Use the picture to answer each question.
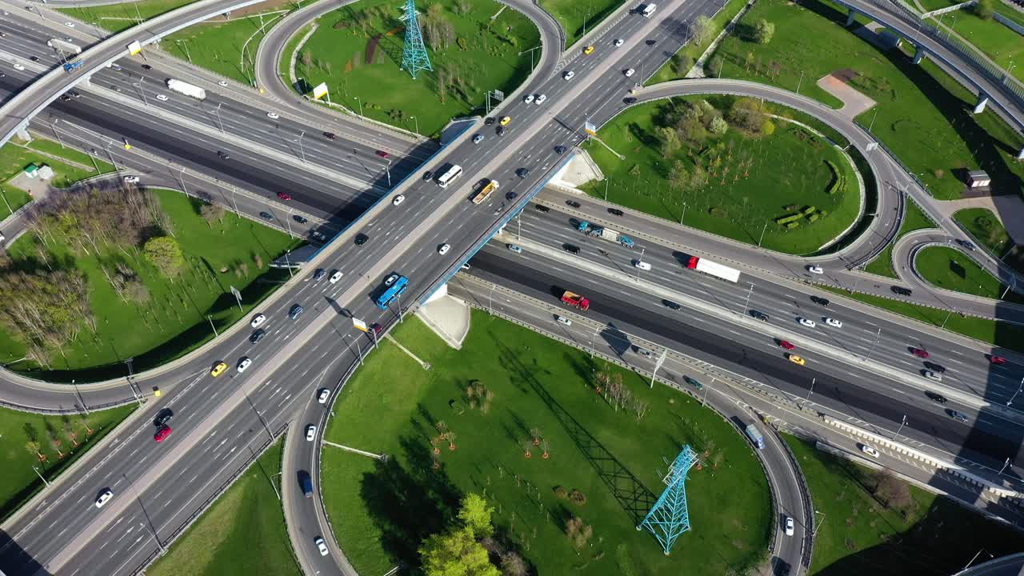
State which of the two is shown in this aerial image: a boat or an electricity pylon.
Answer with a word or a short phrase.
electricity pylon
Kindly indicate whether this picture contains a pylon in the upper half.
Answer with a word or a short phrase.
Yes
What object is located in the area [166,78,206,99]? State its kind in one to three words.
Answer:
truck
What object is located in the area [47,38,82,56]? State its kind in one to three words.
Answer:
vehicle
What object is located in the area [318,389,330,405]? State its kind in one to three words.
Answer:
vehicle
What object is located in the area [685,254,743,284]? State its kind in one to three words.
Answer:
truck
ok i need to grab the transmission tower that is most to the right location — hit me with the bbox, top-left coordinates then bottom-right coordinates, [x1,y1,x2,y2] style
[636,443,696,555]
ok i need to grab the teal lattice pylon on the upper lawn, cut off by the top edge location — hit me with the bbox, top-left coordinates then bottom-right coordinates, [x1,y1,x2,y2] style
[399,0,434,79]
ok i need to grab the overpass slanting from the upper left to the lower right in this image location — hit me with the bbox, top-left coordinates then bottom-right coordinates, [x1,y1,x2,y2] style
[806,0,1024,157]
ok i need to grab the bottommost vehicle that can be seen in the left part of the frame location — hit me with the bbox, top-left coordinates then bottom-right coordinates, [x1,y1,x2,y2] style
[315,537,328,557]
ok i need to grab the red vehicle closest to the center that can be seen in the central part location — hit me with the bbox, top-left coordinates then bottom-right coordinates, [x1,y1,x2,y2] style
[560,291,589,311]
